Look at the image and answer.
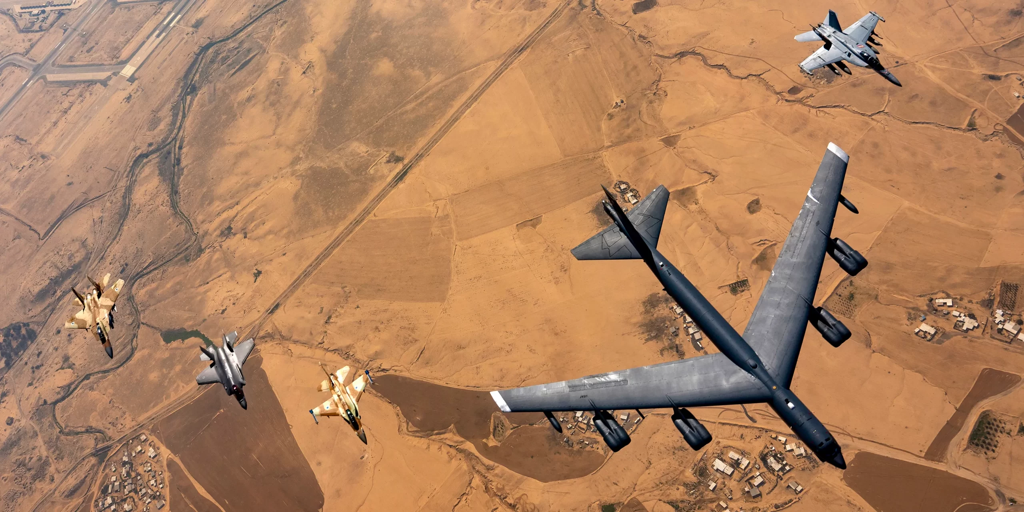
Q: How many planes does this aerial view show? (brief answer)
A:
5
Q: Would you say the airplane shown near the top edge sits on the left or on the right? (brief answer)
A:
right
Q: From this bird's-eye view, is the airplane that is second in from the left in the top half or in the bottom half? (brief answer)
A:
bottom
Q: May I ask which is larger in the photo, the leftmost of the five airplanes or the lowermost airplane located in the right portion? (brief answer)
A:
the lowermost airplane located in the right portion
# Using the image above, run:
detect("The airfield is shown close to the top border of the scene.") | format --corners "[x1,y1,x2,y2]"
[0,0,200,159]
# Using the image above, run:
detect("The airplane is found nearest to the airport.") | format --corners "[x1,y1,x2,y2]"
[65,273,124,358]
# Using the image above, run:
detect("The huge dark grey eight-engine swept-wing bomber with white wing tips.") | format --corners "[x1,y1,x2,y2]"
[489,141,868,470]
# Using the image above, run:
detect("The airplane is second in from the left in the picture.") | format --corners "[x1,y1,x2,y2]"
[196,331,255,410]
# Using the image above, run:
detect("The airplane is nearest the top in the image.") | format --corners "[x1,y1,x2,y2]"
[794,9,902,86]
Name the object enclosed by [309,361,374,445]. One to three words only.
airplane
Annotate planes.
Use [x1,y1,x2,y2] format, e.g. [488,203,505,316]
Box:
[196,331,255,410]
[489,141,868,470]
[309,361,374,445]
[794,9,902,86]
[65,273,124,358]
